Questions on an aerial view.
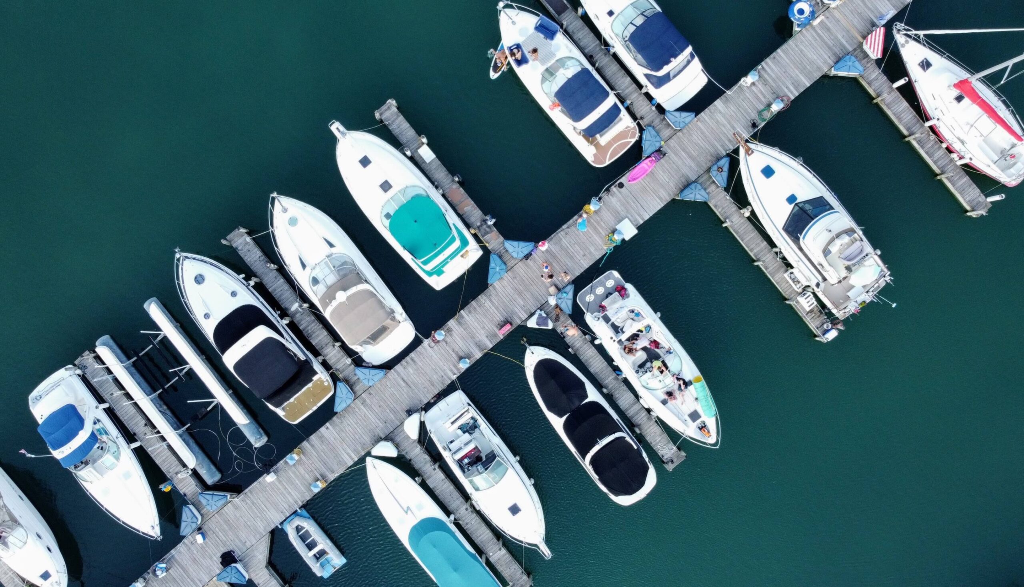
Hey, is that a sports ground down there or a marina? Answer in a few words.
marina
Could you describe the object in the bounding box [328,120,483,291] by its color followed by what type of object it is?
white boat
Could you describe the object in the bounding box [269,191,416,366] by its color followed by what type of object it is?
white boat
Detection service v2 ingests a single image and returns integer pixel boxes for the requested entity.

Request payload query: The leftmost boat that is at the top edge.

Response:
[497,0,640,168]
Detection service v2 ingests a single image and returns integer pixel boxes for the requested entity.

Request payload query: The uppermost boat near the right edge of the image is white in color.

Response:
[892,22,1024,187]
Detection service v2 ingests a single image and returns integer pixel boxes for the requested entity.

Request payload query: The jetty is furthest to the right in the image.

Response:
[848,48,991,217]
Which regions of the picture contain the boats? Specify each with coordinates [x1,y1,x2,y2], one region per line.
[424,389,551,560]
[892,22,1024,187]
[287,515,341,574]
[366,456,504,587]
[521,337,657,506]
[173,246,335,424]
[733,129,896,320]
[0,462,77,587]
[497,0,640,168]
[579,0,708,111]
[269,191,416,366]
[577,270,722,448]
[21,364,166,549]
[328,120,483,291]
